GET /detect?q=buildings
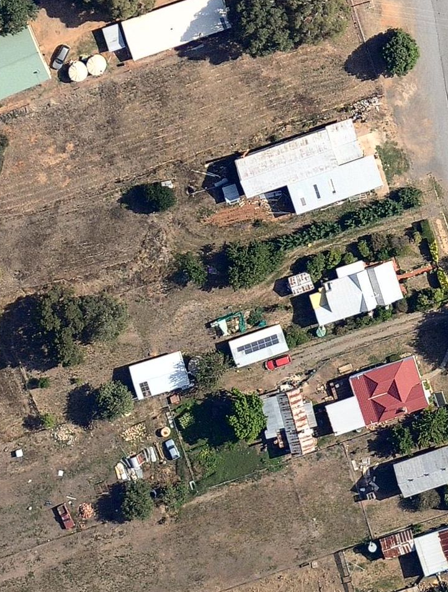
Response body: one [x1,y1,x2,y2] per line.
[393,445,448,498]
[121,0,230,60]
[229,324,289,368]
[235,119,383,214]
[129,351,190,400]
[289,272,313,295]
[223,184,240,204]
[381,529,415,559]
[326,357,431,436]
[0,27,50,99]
[414,526,448,577]
[263,388,318,457]
[310,261,404,326]
[102,23,125,51]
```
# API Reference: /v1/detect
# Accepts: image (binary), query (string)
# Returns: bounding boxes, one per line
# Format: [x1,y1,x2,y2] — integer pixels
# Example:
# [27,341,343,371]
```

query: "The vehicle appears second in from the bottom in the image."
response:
[165,437,180,462]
